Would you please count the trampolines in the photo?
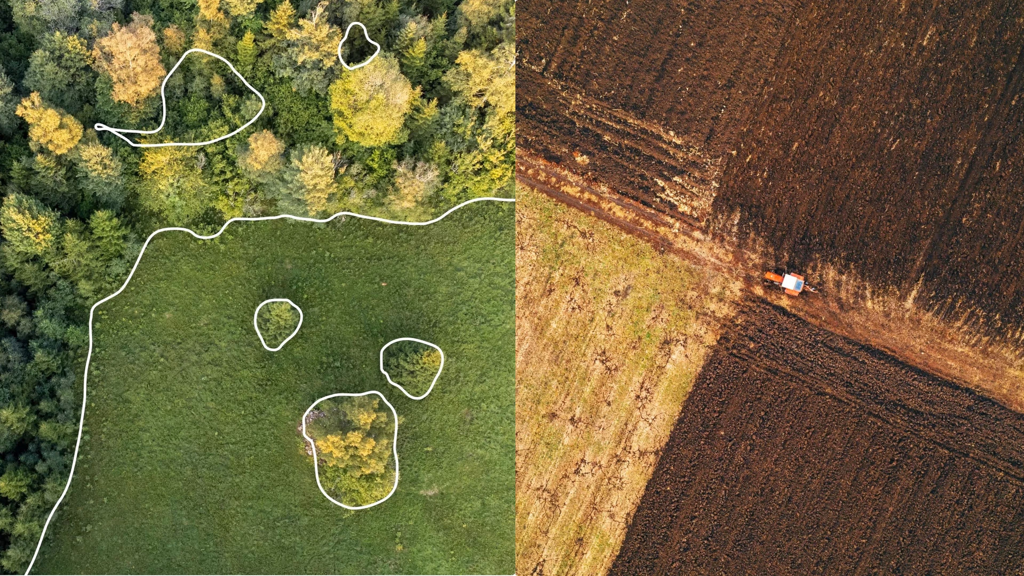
0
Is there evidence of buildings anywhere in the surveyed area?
No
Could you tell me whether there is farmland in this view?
Yes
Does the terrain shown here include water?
No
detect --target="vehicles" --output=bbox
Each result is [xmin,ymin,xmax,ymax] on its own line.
[761,271,804,298]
